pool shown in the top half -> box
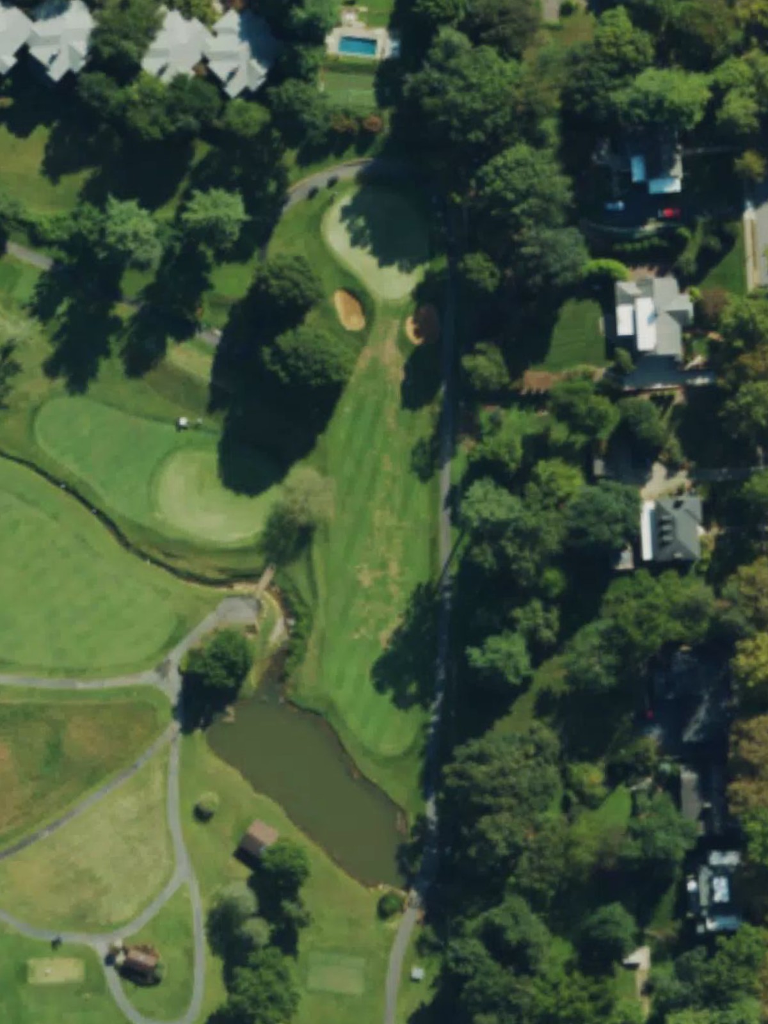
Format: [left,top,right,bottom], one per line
[339,38,375,53]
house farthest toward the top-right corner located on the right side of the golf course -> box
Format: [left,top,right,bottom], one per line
[628,134,682,194]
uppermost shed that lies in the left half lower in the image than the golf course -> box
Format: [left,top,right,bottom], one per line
[235,818,272,855]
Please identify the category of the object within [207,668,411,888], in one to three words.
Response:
pond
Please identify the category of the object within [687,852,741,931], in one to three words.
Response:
house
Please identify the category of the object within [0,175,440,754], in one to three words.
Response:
golf course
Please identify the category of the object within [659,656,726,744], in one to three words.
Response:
house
